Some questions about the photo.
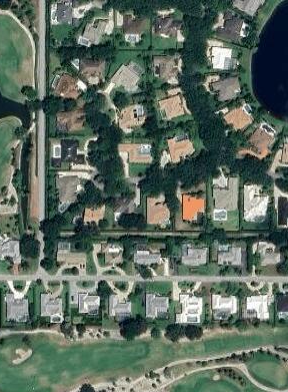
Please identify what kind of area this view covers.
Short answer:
residential area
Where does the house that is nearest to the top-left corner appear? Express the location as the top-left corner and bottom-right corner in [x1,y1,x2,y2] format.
[56,0,72,22]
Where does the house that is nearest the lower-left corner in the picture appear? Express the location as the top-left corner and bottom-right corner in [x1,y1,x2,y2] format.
[6,294,27,323]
